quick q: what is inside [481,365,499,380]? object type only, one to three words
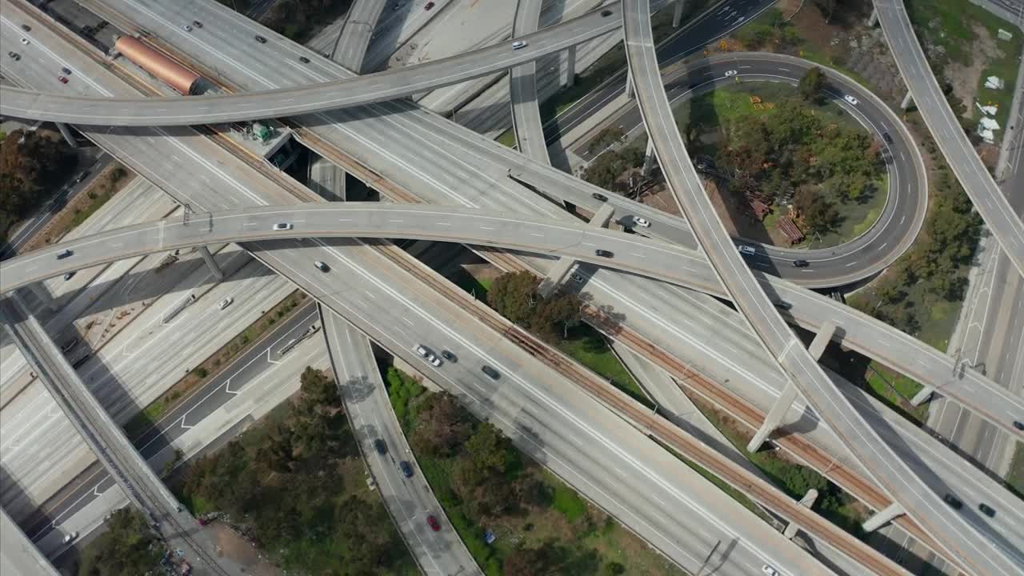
car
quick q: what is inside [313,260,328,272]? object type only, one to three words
vehicle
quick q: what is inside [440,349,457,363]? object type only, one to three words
car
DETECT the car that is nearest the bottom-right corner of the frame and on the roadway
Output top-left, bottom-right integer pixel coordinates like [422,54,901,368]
[975,500,1000,518]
